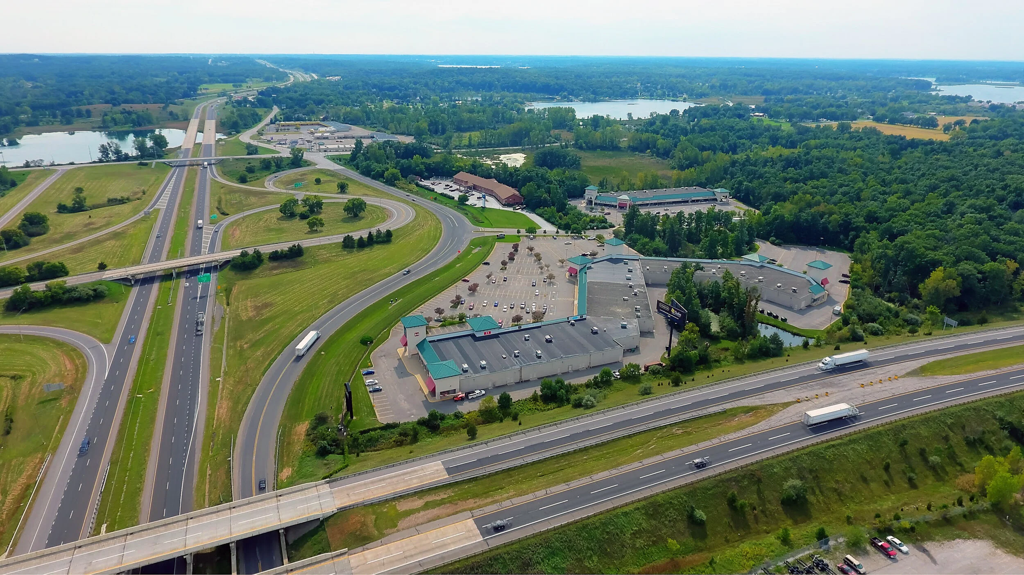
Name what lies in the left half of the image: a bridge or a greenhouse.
bridge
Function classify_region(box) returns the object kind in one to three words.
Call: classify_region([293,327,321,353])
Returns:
truck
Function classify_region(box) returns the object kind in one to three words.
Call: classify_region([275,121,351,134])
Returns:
building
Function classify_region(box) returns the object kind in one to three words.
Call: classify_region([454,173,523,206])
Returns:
building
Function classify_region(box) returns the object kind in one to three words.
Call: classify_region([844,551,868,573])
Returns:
car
